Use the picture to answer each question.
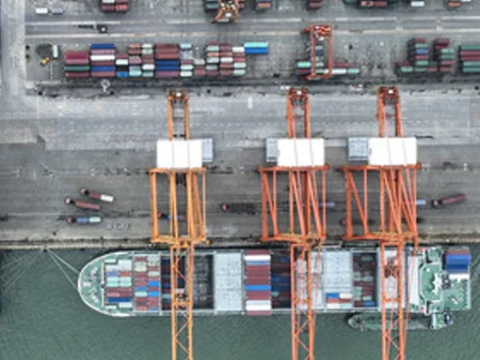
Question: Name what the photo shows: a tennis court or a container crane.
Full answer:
Of the two, only a container crane appears.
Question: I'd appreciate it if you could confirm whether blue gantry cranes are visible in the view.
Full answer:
No, I can't see a single blue gantry crane in this photo.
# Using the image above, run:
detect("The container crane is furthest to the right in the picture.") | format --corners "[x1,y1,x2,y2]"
[336,83,419,360]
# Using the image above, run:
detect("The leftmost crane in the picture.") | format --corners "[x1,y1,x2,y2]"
[146,87,208,360]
